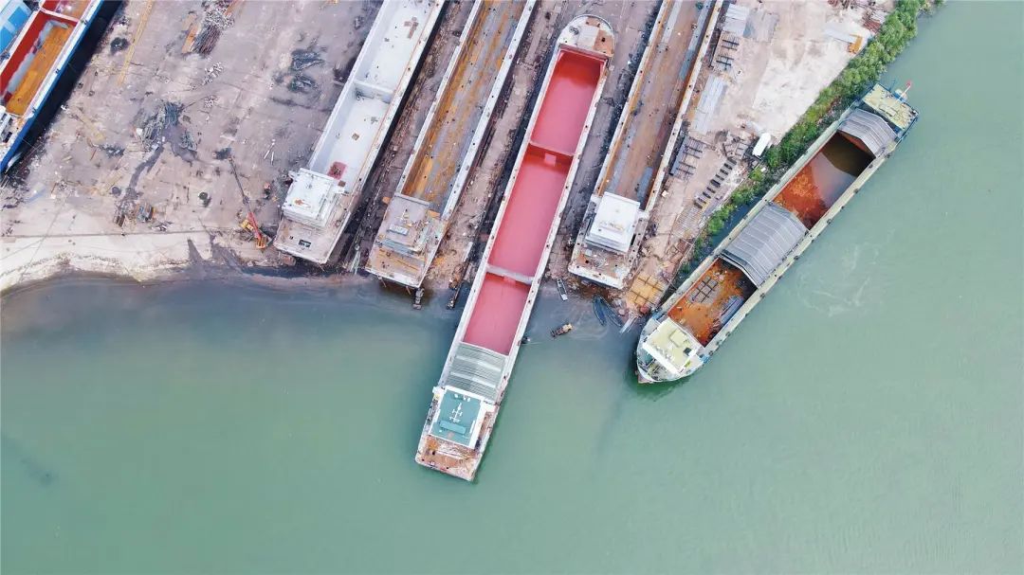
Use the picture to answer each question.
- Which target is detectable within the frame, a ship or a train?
ship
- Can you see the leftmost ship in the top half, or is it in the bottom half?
top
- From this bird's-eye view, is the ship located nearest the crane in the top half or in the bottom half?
top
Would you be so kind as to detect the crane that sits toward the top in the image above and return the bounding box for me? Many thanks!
[228,157,271,248]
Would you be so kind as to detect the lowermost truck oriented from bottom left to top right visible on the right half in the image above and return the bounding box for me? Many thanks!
[751,131,773,157]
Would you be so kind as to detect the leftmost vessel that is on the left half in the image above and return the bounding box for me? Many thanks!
[0,0,126,196]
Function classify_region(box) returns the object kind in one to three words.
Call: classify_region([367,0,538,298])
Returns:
ship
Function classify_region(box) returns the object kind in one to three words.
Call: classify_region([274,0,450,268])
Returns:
ship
